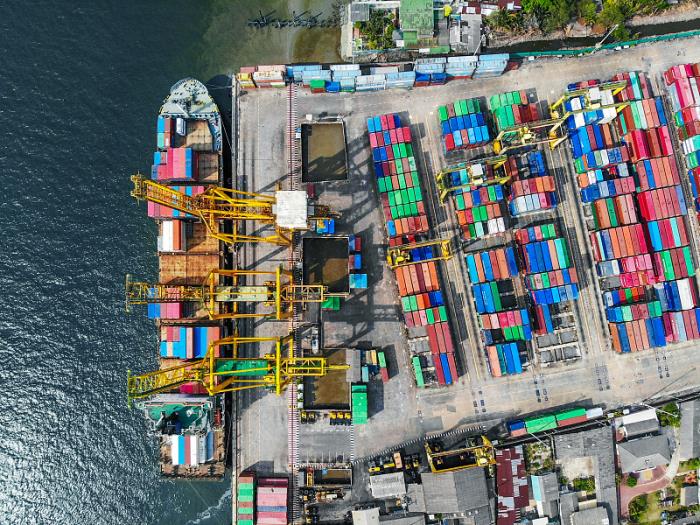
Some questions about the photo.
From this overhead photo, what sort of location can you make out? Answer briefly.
port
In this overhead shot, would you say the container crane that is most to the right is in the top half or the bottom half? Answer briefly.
top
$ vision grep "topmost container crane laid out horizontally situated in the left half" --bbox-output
[122,165,348,252]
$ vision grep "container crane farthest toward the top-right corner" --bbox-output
[546,80,632,131]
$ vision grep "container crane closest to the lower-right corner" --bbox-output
[423,431,498,476]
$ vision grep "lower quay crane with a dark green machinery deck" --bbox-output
[122,329,352,409]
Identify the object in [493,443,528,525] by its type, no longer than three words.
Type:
building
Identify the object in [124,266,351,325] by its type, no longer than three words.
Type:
container crane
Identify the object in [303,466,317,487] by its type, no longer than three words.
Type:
vehicle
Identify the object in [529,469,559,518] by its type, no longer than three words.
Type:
house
